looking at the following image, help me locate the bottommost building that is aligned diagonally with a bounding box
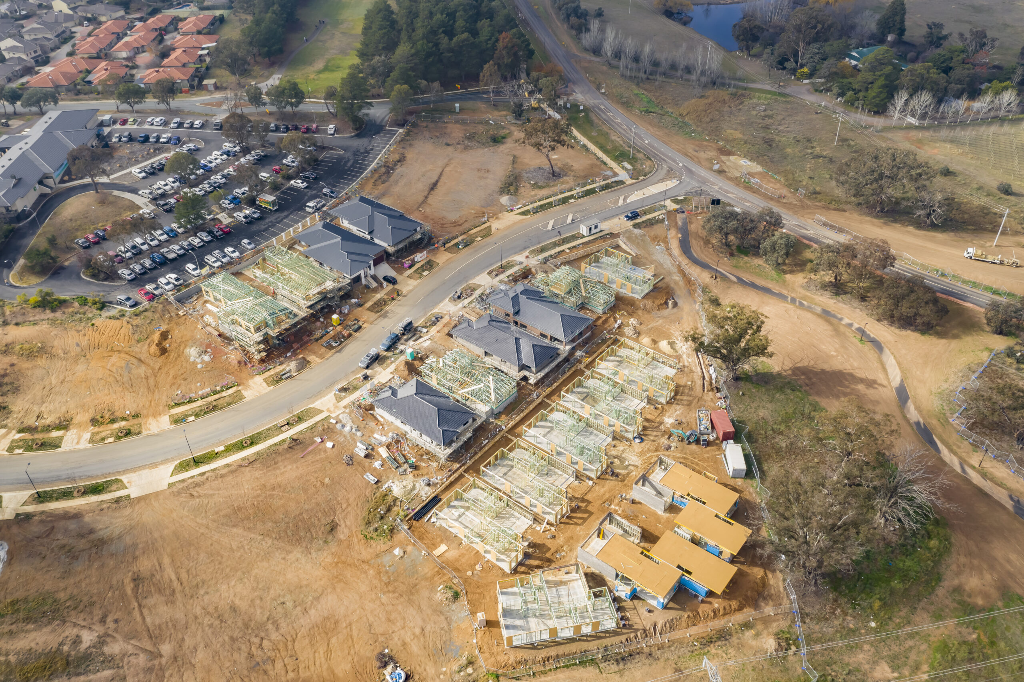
[576,526,615,563]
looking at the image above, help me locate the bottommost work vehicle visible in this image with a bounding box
[670,426,699,444]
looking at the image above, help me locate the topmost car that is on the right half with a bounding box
[623,209,641,221]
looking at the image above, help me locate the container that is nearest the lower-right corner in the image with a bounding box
[721,444,747,480]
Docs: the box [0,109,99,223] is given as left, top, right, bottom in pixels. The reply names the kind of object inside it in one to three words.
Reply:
building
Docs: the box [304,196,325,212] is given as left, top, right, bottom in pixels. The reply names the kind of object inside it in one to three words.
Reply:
vehicle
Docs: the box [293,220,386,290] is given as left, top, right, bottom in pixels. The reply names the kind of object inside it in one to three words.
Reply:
house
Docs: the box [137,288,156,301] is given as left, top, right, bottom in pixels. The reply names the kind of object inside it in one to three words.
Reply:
vehicle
